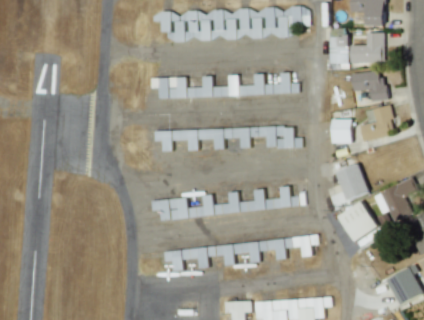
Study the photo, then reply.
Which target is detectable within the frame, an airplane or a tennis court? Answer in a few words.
airplane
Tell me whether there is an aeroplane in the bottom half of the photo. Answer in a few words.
Yes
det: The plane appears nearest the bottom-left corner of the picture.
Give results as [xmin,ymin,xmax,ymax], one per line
[157,263,180,282]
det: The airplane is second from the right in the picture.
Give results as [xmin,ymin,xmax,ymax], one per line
[234,256,258,272]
